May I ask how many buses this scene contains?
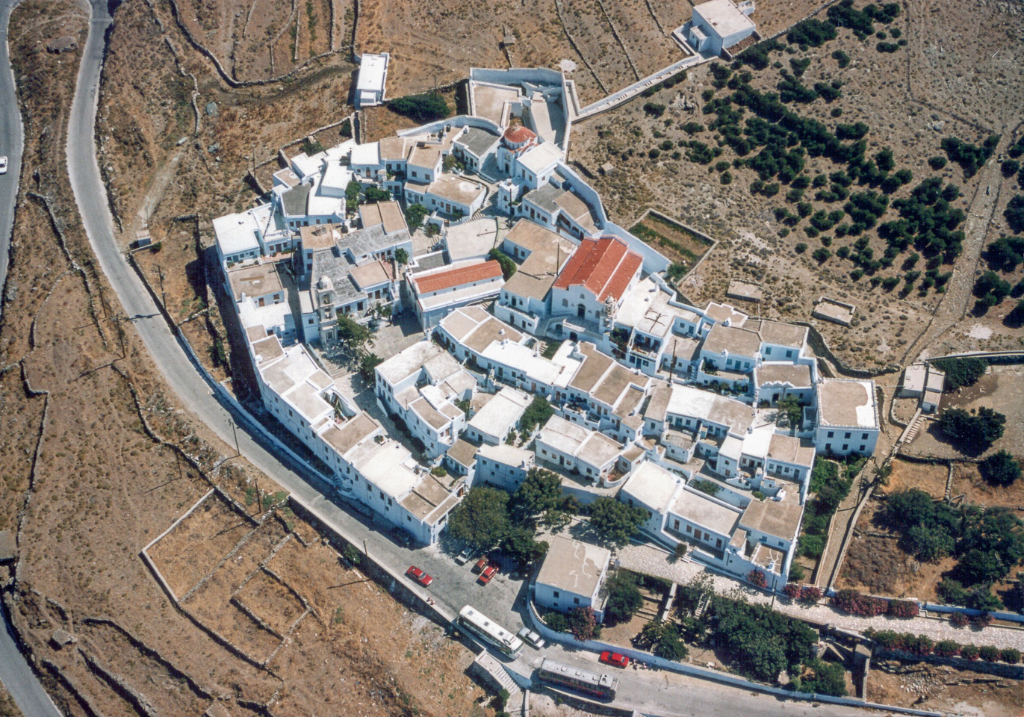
2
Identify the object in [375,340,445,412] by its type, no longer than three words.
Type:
house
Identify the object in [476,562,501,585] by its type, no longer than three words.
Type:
car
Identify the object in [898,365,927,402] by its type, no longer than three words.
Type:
building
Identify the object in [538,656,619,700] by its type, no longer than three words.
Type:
bus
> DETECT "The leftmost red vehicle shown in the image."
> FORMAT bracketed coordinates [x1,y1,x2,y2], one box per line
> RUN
[405,567,435,586]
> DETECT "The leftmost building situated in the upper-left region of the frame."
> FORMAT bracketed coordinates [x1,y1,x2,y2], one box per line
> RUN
[47,36,79,57]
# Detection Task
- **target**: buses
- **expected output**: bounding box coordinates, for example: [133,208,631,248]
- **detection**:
[538,656,619,700]
[457,604,528,662]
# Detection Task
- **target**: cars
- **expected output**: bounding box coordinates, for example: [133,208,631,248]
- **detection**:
[405,567,435,586]
[516,629,548,650]
[451,546,477,566]
[0,158,7,173]
[468,553,491,574]
[599,651,629,667]
[476,562,501,585]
